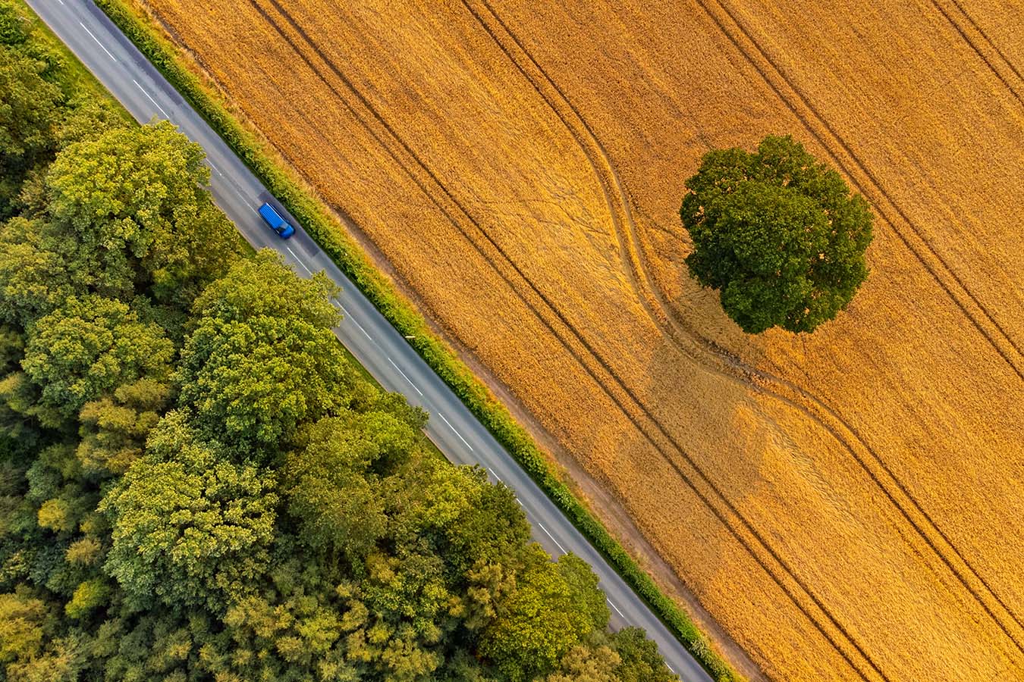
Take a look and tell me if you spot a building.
No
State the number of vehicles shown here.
1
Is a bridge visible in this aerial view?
No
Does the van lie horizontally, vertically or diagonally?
diagonally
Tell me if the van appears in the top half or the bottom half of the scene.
top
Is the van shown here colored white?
No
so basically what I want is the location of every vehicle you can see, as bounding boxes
[259,202,300,243]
